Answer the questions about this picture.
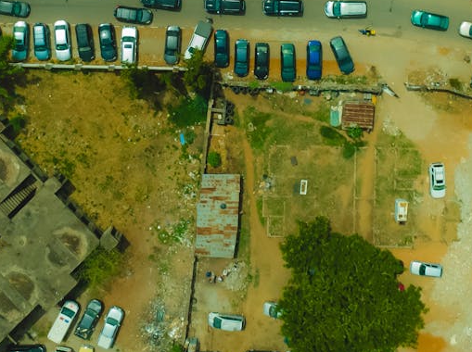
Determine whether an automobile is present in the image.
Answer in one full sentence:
Yes, the frame does contain an automobile.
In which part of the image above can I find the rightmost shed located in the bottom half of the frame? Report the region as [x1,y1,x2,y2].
[195,171,240,258]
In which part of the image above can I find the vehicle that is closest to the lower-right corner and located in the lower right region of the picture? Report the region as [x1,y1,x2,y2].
[411,259,443,278]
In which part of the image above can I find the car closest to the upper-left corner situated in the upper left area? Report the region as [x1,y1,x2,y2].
[0,0,31,17]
